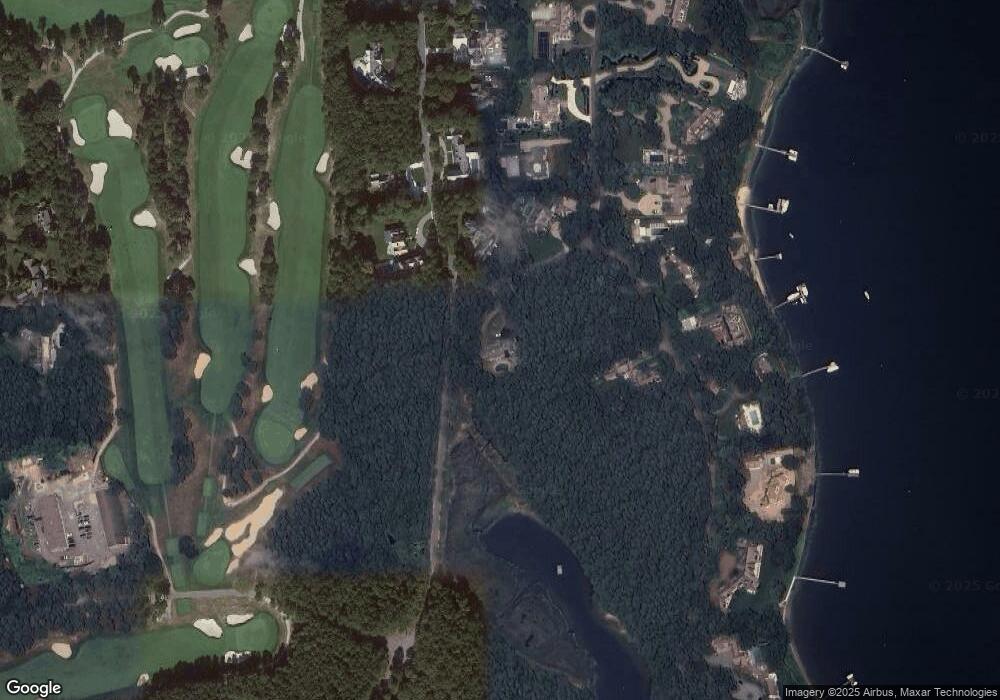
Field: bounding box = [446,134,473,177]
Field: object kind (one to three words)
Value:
house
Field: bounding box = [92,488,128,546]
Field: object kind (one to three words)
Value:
building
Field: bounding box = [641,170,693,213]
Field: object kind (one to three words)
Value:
house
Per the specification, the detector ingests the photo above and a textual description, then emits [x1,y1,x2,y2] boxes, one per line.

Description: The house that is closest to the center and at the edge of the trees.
[480,338,521,370]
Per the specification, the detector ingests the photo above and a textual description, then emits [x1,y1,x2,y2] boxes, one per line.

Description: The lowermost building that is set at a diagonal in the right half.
[713,634,773,679]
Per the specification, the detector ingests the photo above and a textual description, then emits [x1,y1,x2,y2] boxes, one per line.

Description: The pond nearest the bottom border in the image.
[482,515,650,700]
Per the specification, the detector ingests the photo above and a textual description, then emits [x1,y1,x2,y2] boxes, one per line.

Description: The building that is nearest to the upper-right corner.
[728,72,752,100]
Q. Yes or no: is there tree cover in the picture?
Yes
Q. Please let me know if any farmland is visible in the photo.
No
